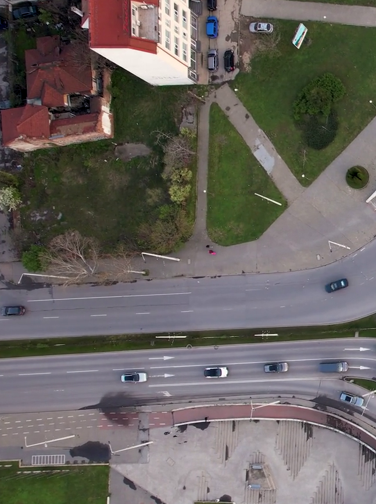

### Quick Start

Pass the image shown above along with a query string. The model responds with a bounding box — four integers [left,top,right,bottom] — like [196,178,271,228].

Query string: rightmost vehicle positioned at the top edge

[251,22,274,35]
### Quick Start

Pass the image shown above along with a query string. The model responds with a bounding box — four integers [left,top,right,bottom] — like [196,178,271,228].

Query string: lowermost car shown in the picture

[340,392,365,407]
